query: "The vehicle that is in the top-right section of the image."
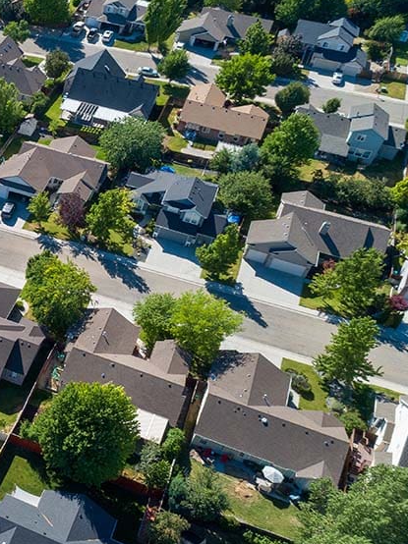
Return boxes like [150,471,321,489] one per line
[331,71,345,86]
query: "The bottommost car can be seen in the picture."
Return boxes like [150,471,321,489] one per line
[1,200,16,219]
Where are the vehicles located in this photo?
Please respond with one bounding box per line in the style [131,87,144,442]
[331,71,345,86]
[137,69,160,79]
[1,200,16,219]
[86,27,98,41]
[72,20,85,34]
[103,31,113,41]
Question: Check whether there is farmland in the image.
No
